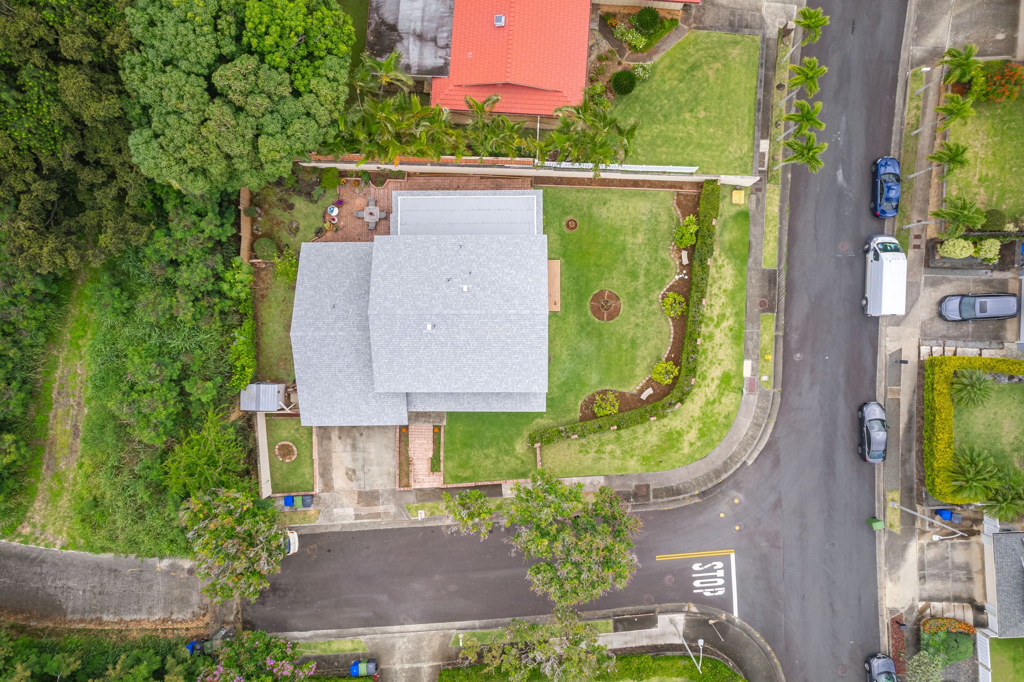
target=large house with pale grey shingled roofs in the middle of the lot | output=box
[290,190,549,426]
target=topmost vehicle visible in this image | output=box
[870,154,907,216]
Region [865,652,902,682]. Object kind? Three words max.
car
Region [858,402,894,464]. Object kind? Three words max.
car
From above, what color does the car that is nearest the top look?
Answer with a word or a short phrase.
blue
